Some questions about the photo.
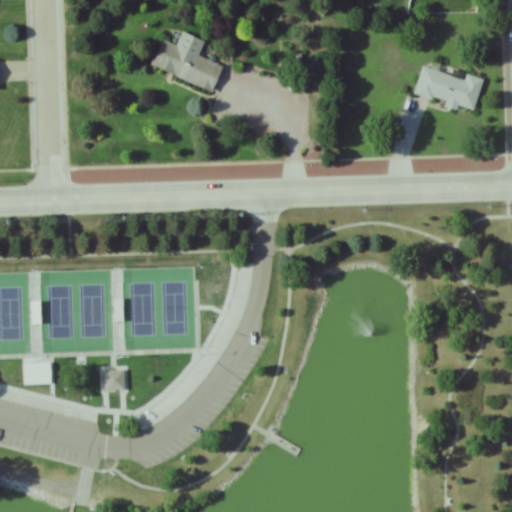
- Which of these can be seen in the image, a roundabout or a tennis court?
tennis court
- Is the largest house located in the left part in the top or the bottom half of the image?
top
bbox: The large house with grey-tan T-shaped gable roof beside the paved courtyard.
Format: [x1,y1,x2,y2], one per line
[152,32,224,90]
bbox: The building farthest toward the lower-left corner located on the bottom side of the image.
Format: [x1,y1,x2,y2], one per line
[22,361,52,386]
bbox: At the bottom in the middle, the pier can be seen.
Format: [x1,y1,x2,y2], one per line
[254,424,302,456]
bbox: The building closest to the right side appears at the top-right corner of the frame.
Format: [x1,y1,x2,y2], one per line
[414,66,484,110]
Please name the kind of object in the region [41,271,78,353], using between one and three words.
tennis court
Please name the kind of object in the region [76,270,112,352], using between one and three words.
tennis court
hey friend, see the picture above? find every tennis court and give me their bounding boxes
[0,272,30,354]
[76,270,112,352]
[41,271,78,353]
[158,268,196,349]
[124,268,160,350]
